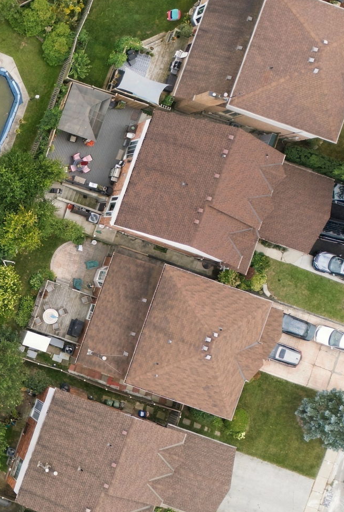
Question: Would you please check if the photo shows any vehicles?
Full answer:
Yes, there's a vehicle here.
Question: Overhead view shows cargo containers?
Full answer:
No, no cargo container can be seen from above.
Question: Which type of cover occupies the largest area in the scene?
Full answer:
The bulk of the photo consists of buildings.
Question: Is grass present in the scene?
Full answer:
Yes, there's grass in this view.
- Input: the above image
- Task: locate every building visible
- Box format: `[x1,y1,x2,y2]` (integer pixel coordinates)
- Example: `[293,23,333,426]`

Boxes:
[165,0,344,146]
[96,107,336,274]
[70,251,284,421]
[5,383,237,512]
